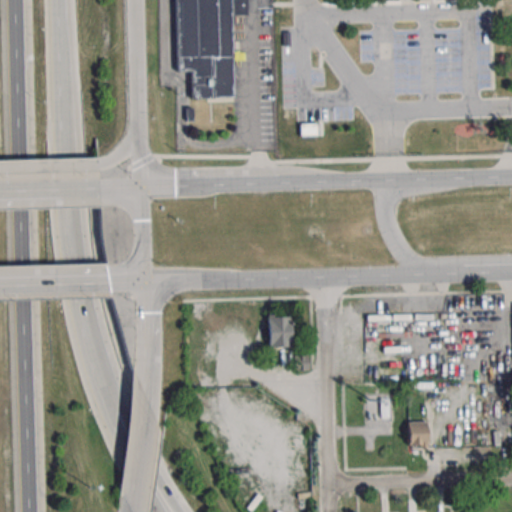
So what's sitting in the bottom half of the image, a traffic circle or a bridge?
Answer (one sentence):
The one visible in the bottom half of the image is a bridge.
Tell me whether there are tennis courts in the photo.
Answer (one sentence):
No, the scene contains no tennis court.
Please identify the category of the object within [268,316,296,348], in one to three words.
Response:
house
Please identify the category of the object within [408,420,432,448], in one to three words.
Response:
house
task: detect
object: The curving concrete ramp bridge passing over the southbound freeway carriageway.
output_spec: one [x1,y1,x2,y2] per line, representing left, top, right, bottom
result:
[118,366,162,512]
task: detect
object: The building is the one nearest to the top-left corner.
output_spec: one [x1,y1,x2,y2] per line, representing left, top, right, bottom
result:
[177,0,248,102]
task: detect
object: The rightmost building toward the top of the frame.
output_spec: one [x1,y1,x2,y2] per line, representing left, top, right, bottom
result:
[300,122,325,138]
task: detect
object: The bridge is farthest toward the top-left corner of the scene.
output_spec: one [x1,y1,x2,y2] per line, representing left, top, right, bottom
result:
[0,156,108,210]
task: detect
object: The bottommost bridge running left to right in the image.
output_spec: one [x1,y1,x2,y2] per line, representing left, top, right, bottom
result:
[0,263,112,300]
